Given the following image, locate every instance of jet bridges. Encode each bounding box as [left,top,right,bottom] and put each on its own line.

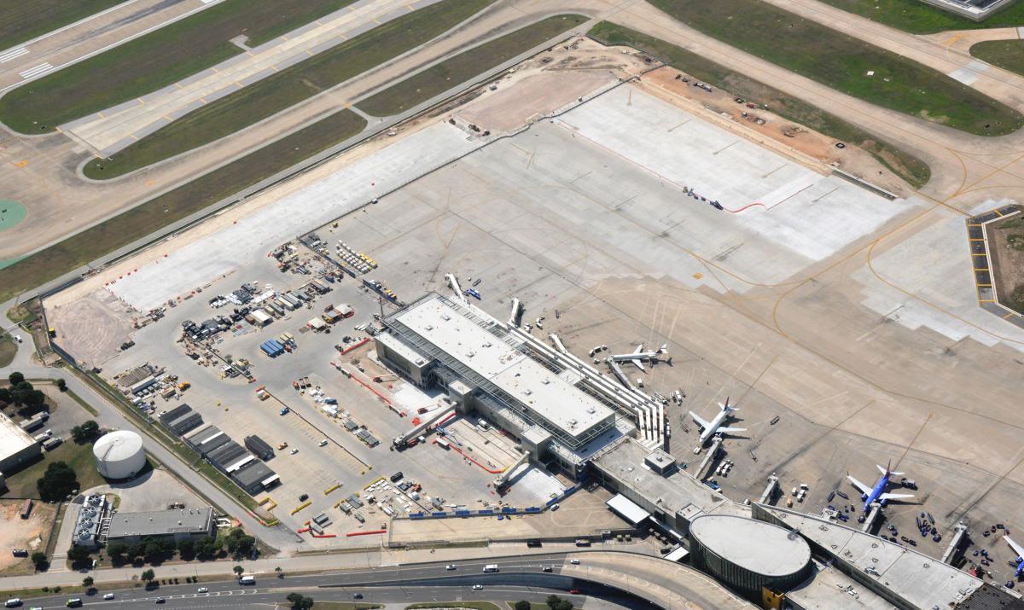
[756,476,778,505]
[939,526,968,566]
[859,504,881,534]
[605,359,633,391]
[506,299,521,325]
[549,332,568,355]
[394,400,460,448]
[445,275,471,307]
[692,440,720,480]
[494,450,531,487]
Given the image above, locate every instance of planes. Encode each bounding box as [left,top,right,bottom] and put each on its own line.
[690,394,749,443]
[998,529,1024,576]
[604,337,669,368]
[848,460,916,512]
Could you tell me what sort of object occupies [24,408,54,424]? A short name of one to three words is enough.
vehicle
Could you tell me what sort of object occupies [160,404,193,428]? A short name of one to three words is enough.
building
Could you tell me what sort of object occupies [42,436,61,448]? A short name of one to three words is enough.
vehicle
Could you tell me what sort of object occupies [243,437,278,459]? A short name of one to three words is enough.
building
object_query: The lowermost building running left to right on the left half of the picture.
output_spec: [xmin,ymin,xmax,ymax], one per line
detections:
[108,507,217,544]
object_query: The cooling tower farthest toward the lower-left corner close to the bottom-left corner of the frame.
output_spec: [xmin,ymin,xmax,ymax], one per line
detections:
[71,495,109,551]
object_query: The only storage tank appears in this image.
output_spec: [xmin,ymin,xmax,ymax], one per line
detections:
[92,429,146,481]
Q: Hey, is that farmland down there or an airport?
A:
airport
